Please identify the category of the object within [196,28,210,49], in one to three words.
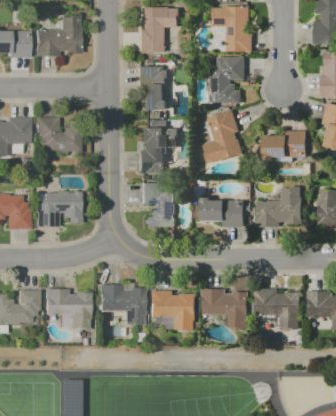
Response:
swimming pool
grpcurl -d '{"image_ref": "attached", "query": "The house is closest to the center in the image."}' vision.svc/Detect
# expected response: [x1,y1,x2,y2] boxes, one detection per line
[143,180,174,228]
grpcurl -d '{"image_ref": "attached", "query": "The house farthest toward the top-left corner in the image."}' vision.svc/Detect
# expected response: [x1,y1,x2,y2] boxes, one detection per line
[0,30,32,58]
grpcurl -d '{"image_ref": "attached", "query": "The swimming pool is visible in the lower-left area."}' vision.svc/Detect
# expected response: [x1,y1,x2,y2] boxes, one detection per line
[48,327,72,341]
